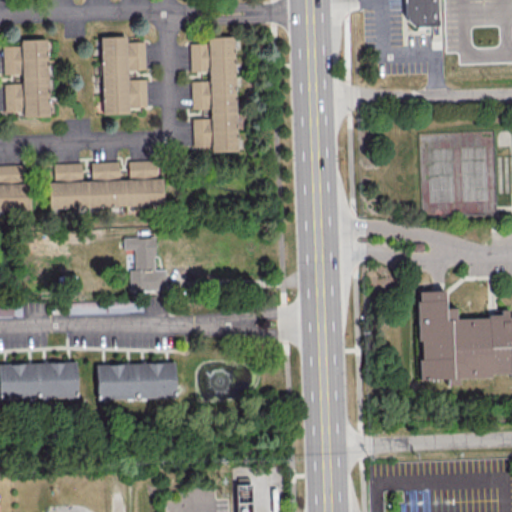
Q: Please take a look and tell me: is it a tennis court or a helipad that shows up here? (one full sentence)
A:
The one in the frame is a tennis court.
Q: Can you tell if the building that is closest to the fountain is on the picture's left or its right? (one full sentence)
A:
The building that is closest to the fountain appears in the left half of the scene.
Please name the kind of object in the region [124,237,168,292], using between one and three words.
house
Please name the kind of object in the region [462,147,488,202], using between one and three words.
tennis court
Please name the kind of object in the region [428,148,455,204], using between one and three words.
tennis court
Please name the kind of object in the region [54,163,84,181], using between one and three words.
building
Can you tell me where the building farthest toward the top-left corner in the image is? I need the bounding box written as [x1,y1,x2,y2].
[2,46,21,76]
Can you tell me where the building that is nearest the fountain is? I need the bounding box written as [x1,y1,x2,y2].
[97,362,177,400]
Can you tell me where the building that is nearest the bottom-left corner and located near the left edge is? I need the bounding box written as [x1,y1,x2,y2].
[0,362,78,400]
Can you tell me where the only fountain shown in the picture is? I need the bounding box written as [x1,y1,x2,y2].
[206,368,232,392]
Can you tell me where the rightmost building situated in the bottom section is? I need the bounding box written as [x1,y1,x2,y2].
[420,292,512,382]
